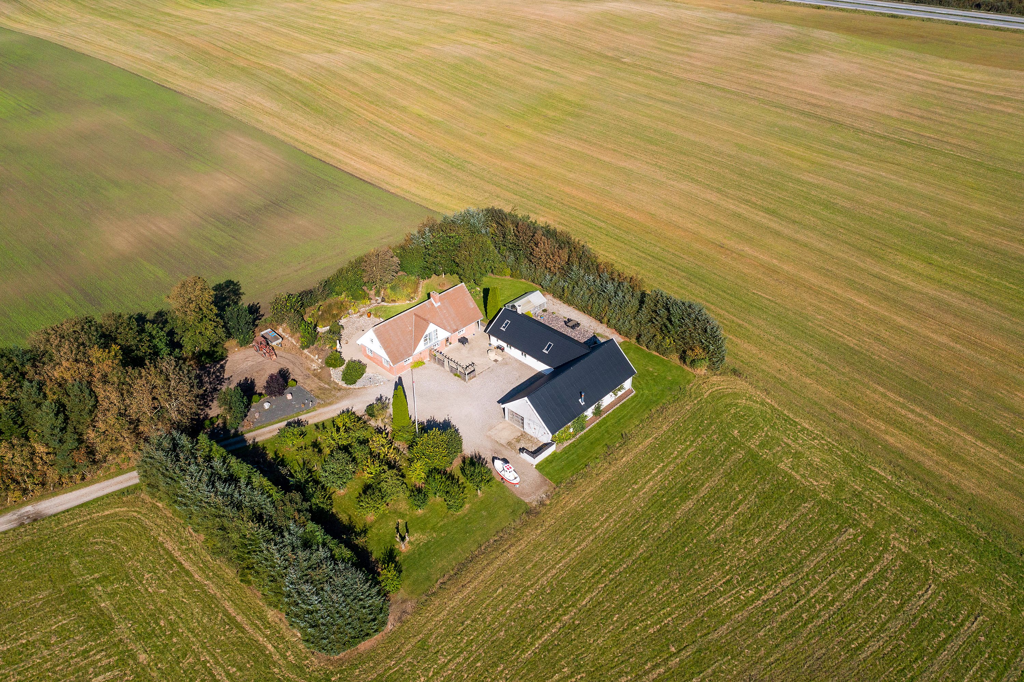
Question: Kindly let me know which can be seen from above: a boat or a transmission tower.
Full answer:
There is a boat in the scene.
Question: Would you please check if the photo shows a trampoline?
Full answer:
No, I can see no trampoline in this picture.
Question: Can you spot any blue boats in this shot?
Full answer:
No, I can't see a single blue boat in this photo.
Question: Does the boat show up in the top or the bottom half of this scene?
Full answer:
Seen from above, the boat lies in the bottom half of the view.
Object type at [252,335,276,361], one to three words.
work vehicle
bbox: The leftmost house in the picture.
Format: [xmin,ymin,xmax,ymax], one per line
[355,282,484,377]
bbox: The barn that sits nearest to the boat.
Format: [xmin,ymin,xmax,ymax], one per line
[500,338,637,445]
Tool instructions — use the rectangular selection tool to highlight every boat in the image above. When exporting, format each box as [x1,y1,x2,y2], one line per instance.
[492,455,521,488]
